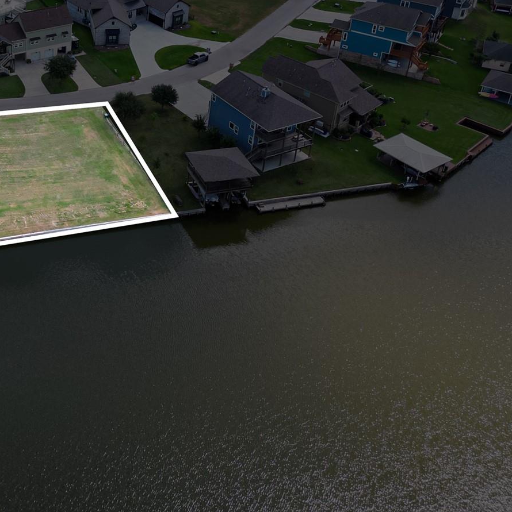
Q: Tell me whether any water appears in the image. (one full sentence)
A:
Yes, water can be seen from above here.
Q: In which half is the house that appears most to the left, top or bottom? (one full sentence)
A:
The top half of the photo is where the house that appears most to the left is.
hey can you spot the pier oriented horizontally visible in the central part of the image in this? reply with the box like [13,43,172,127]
[253,196,326,215]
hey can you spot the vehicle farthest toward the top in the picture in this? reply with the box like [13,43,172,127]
[185,52,211,66]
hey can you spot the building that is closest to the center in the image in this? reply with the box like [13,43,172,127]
[179,146,265,217]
